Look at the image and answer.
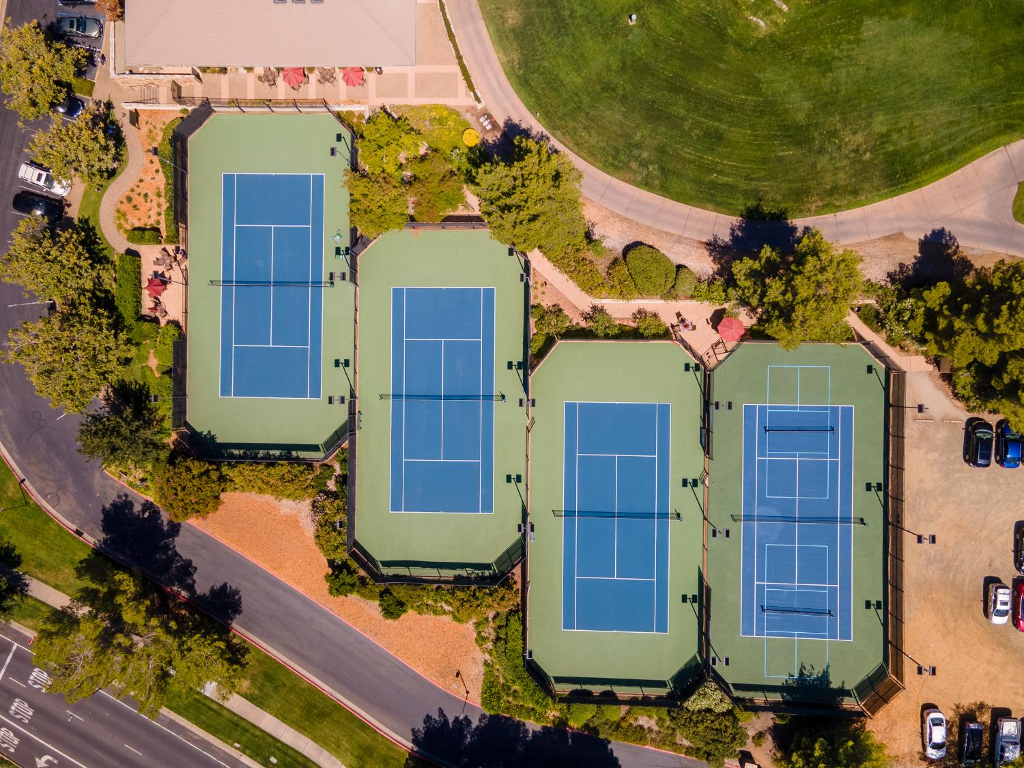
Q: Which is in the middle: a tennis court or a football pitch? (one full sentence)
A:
Looking in the middle, you will find a tennis court.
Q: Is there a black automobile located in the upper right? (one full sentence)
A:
No, no black automobile appears in the upper right.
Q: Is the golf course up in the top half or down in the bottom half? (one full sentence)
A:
The golf course sits in the top half of the picture.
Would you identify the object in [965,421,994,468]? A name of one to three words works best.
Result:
car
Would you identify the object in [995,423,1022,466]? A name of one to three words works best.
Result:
car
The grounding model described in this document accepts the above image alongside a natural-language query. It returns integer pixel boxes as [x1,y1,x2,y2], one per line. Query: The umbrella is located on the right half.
[718,317,743,342]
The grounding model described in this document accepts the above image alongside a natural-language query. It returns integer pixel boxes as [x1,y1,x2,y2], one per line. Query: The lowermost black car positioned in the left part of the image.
[12,196,66,222]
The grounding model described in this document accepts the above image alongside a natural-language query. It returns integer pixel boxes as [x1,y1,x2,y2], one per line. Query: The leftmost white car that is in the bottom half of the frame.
[920,708,946,756]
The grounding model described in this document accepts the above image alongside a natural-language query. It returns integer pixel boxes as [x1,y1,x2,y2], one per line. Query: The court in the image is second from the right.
[527,341,705,694]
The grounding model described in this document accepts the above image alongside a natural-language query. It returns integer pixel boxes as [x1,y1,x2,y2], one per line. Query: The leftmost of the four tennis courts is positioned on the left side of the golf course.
[185,113,355,460]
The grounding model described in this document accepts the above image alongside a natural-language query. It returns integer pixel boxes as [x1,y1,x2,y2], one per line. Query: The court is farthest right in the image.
[709,343,890,704]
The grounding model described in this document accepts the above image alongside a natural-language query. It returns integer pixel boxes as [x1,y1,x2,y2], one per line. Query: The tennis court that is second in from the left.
[355,229,529,576]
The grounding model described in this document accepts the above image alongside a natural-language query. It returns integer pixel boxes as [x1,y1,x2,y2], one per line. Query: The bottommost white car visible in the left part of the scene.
[18,165,73,196]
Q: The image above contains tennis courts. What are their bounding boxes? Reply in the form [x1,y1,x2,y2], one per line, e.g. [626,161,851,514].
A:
[527,341,705,694]
[185,113,355,460]
[709,343,890,704]
[355,229,529,576]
